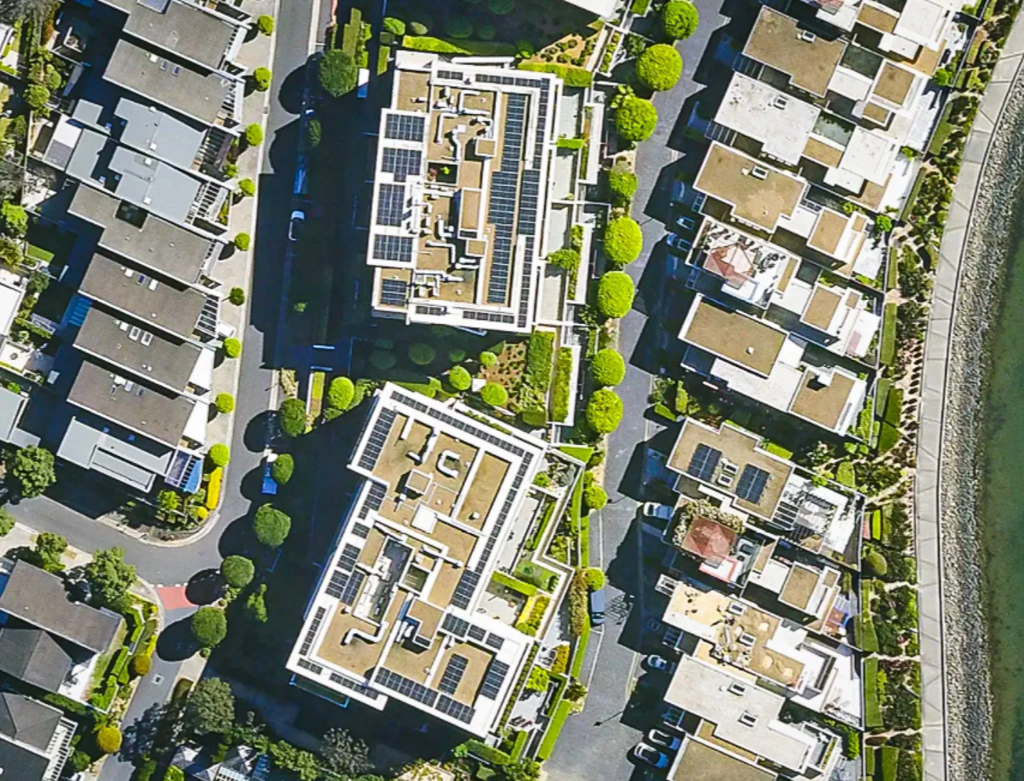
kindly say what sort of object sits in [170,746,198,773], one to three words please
umbrella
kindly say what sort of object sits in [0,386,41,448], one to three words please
house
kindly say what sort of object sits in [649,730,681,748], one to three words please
car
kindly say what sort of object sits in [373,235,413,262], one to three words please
solar array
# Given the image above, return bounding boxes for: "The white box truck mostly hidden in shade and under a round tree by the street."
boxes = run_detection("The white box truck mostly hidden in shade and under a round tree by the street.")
[262,453,279,495]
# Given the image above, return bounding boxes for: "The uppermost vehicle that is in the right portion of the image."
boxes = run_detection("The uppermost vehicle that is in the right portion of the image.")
[669,175,689,206]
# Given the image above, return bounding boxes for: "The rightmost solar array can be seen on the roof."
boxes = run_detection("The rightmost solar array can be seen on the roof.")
[735,463,770,504]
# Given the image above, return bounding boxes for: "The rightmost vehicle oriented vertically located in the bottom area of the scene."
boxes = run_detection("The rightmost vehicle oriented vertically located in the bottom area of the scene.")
[590,590,606,624]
